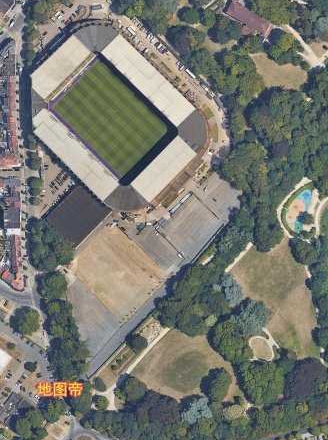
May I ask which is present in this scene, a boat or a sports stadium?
sports stadium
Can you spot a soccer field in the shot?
Yes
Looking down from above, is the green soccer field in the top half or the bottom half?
top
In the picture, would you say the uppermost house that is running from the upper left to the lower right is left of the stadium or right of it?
to the right of it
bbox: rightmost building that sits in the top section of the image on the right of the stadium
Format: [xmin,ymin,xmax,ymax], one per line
[224,0,272,37]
